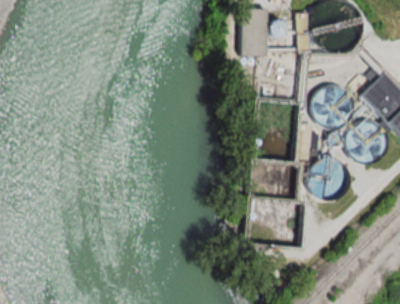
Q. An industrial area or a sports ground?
industrial area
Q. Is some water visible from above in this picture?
Yes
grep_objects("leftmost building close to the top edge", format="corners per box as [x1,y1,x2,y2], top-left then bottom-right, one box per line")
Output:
[243,9,268,56]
